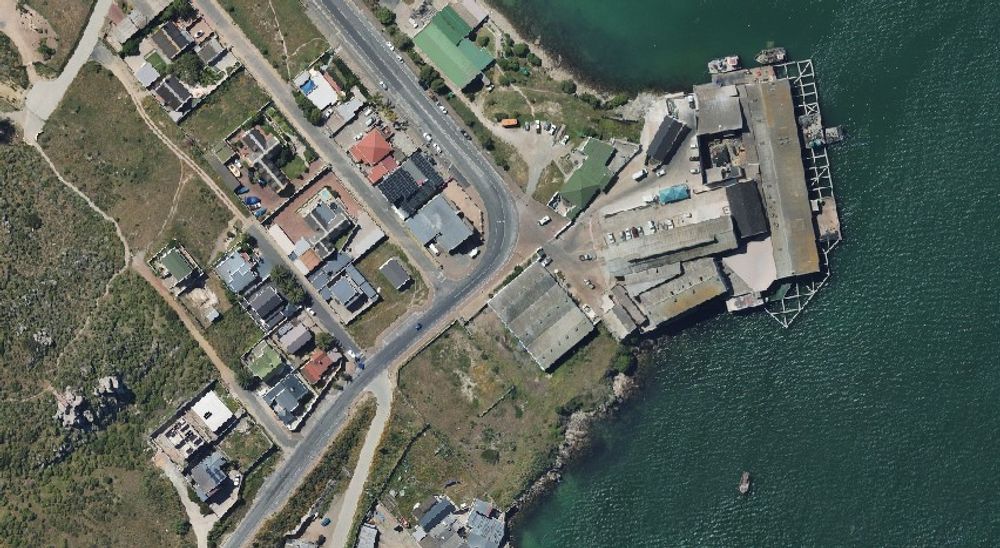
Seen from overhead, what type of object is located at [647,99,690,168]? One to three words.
shed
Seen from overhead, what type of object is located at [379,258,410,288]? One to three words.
house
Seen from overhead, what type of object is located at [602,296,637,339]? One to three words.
building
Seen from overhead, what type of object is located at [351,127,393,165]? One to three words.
house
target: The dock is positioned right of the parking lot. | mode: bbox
[640,60,841,331]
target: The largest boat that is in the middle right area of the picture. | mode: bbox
[729,293,763,312]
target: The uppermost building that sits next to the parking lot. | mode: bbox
[414,0,496,89]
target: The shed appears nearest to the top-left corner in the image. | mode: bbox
[107,10,146,43]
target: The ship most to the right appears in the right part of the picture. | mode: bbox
[825,128,843,141]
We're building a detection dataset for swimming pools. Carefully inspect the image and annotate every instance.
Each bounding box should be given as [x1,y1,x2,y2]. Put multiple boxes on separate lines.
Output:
[320,189,331,201]
[300,79,315,95]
